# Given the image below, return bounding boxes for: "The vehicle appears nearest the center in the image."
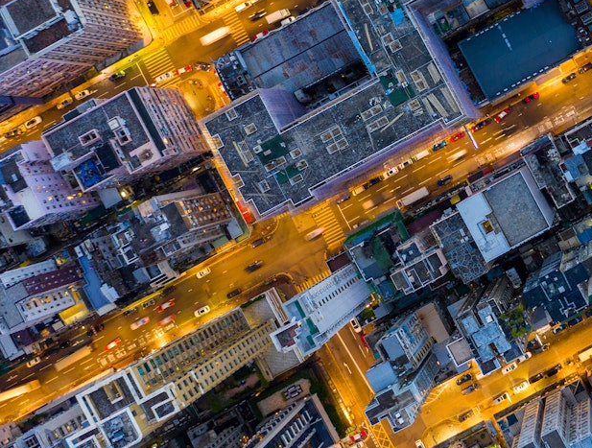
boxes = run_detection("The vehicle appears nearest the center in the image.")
[304,227,323,240]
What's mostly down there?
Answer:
buildings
